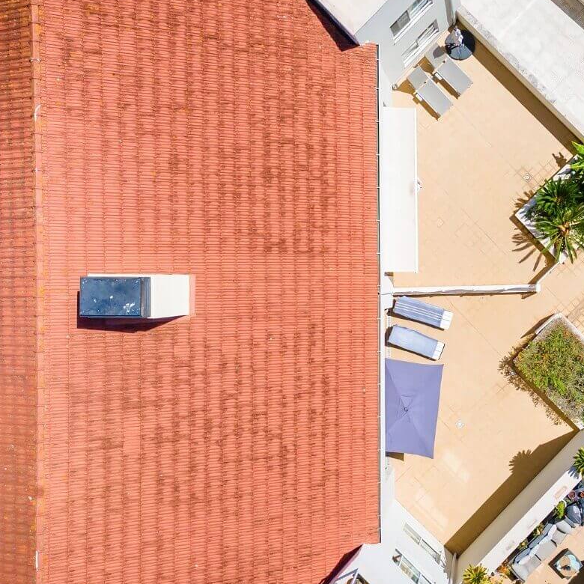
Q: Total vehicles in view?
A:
none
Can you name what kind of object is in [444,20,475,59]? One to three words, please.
umbrella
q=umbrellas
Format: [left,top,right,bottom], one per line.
[444,20,475,59]
[385,358,444,458]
